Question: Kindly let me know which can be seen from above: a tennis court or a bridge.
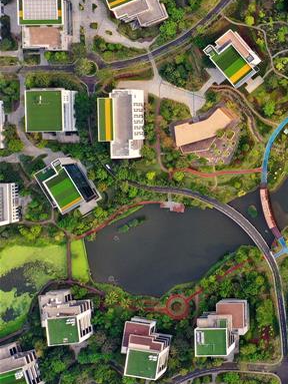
bridge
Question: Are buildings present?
Yes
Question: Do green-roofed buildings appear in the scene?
Yes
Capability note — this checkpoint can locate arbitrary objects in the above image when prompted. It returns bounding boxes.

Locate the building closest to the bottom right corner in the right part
[196,296,254,357]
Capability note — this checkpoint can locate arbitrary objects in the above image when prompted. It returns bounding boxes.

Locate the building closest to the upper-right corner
[203,29,264,90]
